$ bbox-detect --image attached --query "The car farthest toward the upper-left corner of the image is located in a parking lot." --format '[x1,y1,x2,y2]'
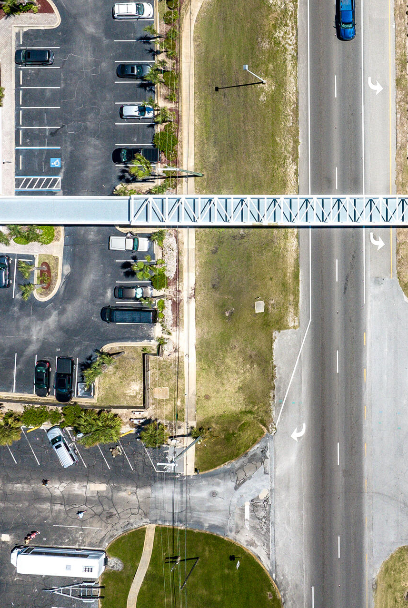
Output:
[15,48,55,66]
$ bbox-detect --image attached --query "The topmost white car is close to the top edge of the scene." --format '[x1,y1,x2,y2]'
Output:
[114,1,153,20]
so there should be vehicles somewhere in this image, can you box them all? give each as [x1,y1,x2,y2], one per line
[53,357,74,402]
[115,284,155,299]
[337,0,357,41]
[109,233,151,252]
[34,360,52,396]
[105,305,159,324]
[0,256,13,288]
[14,544,107,578]
[113,146,160,165]
[15,48,55,66]
[114,1,153,20]
[48,424,79,468]
[117,63,155,79]
[121,102,155,120]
